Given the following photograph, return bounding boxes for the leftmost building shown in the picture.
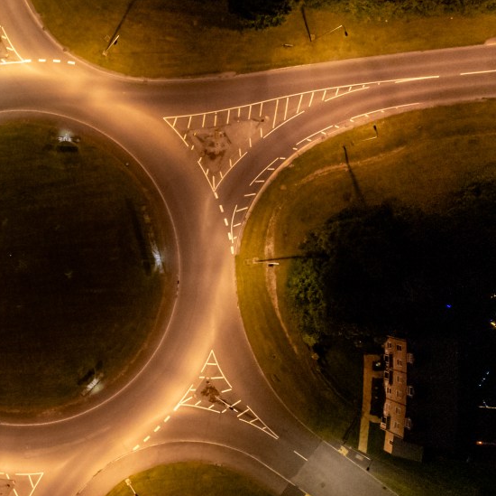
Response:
[381,434,424,463]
